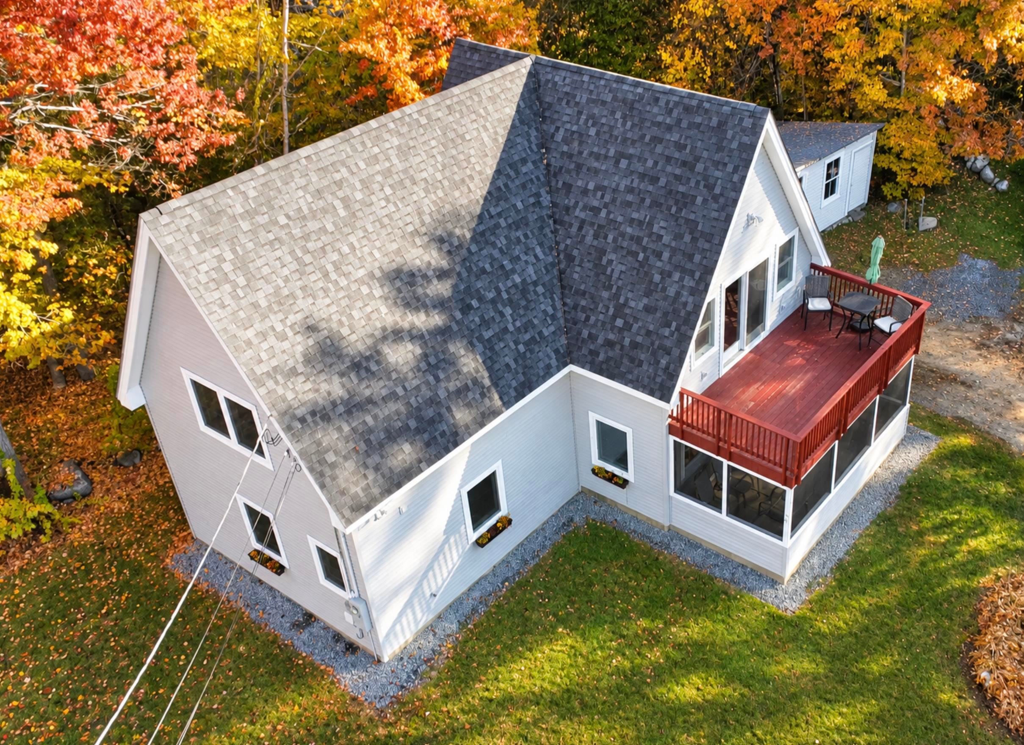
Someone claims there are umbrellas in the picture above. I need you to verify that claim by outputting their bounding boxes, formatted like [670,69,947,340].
[863,230,886,311]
